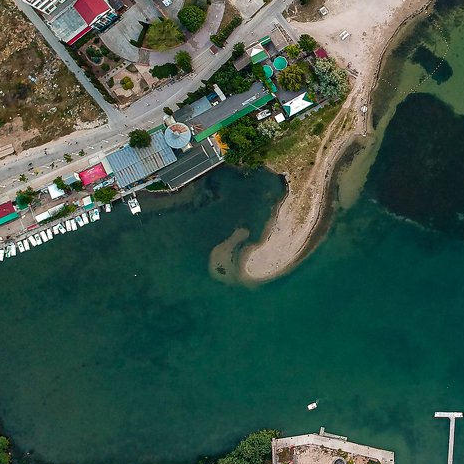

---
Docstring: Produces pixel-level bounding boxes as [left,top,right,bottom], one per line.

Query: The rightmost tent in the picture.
[283,93,316,117]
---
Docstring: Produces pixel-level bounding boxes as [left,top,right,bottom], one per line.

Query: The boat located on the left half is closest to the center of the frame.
[127,196,142,217]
